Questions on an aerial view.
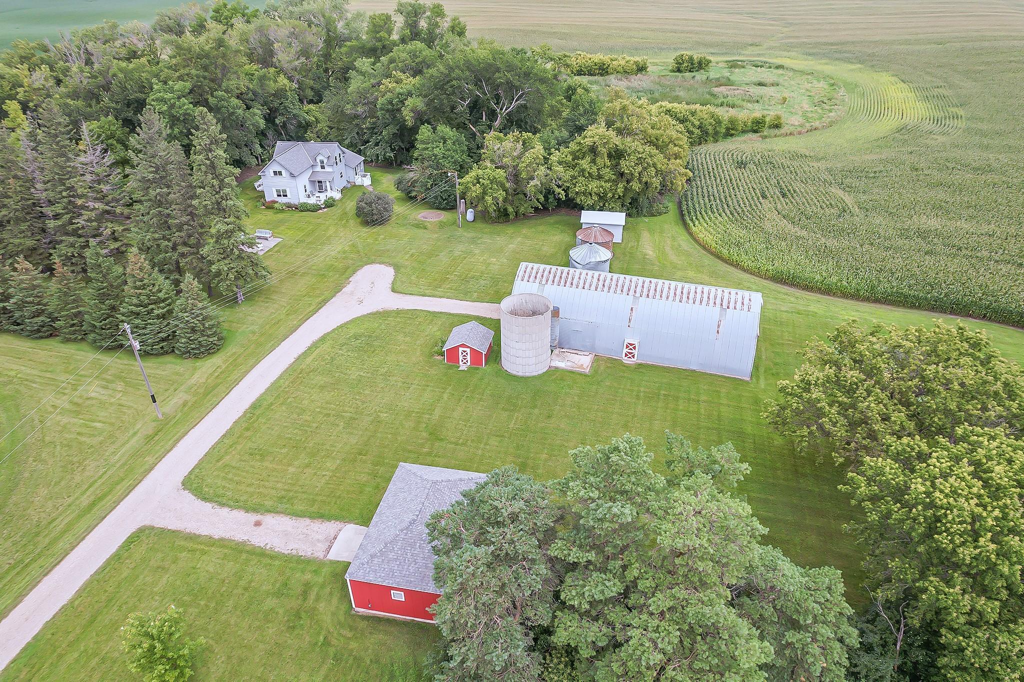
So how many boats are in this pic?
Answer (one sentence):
There are no boats in the image.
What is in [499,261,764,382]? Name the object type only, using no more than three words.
barn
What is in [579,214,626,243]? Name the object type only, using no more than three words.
shed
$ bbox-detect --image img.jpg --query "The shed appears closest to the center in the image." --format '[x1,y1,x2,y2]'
[441,320,496,370]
